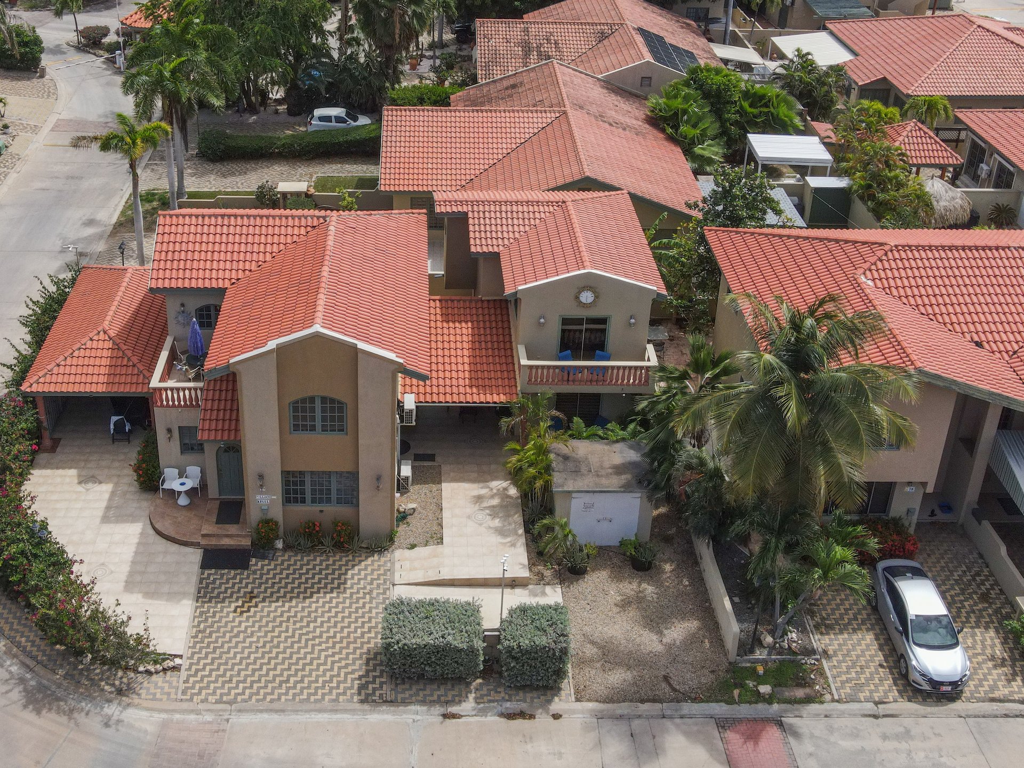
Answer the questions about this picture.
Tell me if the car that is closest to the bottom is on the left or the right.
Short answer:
right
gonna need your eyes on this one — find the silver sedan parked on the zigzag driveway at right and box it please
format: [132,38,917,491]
[868,560,982,698]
